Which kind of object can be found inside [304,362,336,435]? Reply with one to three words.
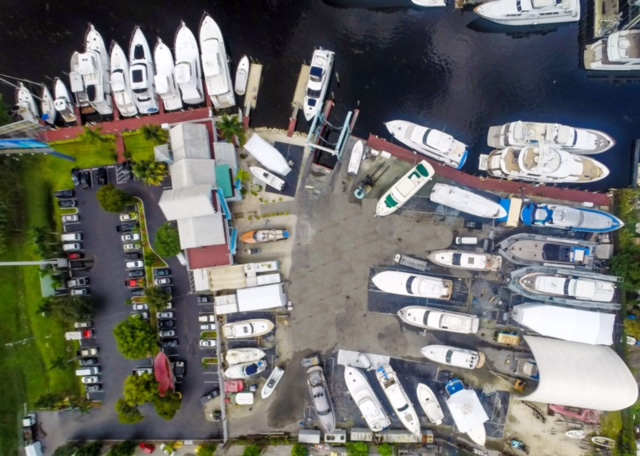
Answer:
boat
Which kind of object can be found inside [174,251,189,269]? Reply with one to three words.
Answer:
vehicle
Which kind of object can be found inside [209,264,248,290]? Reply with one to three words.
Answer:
building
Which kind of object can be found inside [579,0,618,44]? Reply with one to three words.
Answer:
pier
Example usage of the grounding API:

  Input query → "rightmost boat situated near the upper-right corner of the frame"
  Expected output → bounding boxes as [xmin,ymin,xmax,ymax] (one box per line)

[576,35,640,71]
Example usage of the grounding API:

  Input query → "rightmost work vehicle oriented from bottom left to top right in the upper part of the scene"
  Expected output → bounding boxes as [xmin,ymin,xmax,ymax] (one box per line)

[351,160,389,200]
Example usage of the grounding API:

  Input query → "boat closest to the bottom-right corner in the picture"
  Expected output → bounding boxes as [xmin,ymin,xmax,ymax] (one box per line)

[592,435,616,449]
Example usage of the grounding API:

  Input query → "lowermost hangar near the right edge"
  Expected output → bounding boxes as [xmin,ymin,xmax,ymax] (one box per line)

[518,335,638,412]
